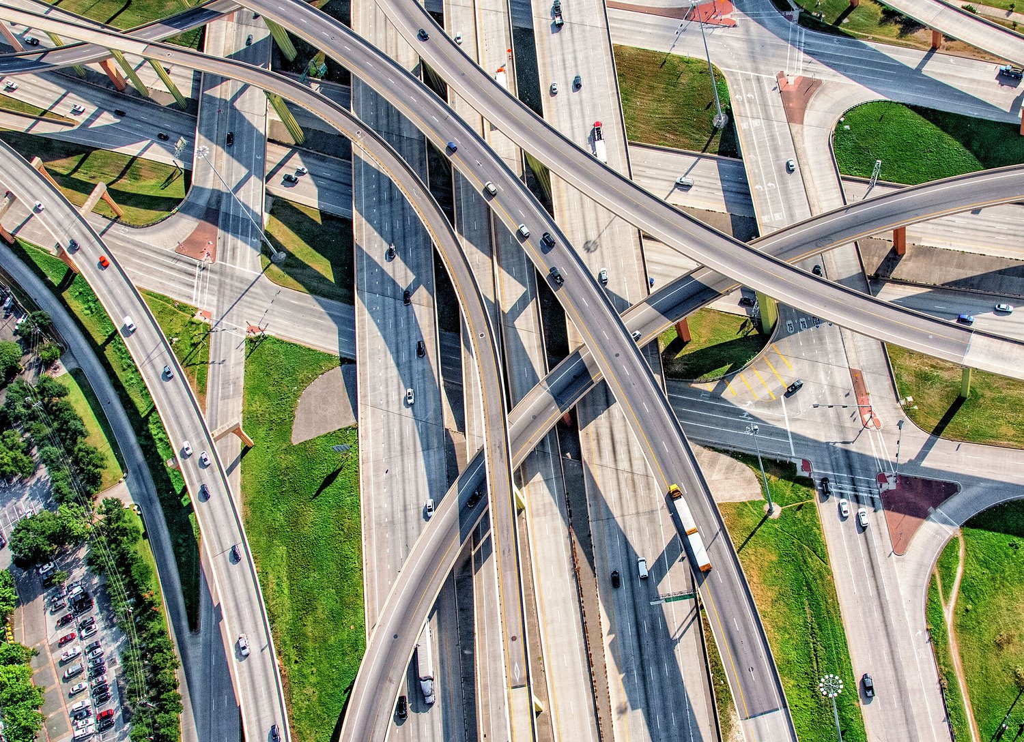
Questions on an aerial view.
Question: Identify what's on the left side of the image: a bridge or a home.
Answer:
bridge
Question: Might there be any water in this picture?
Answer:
No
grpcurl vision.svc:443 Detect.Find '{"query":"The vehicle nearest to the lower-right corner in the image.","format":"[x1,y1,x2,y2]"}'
[861,672,875,699]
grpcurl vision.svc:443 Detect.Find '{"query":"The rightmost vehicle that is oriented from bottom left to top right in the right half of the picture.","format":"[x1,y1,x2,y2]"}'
[781,376,804,394]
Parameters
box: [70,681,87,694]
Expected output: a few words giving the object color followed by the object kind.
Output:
white vehicle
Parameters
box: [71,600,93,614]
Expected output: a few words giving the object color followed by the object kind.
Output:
black vehicle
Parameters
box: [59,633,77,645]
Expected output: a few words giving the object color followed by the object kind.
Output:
red vehicle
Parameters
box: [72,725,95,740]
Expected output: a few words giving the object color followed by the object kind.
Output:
white vehicle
